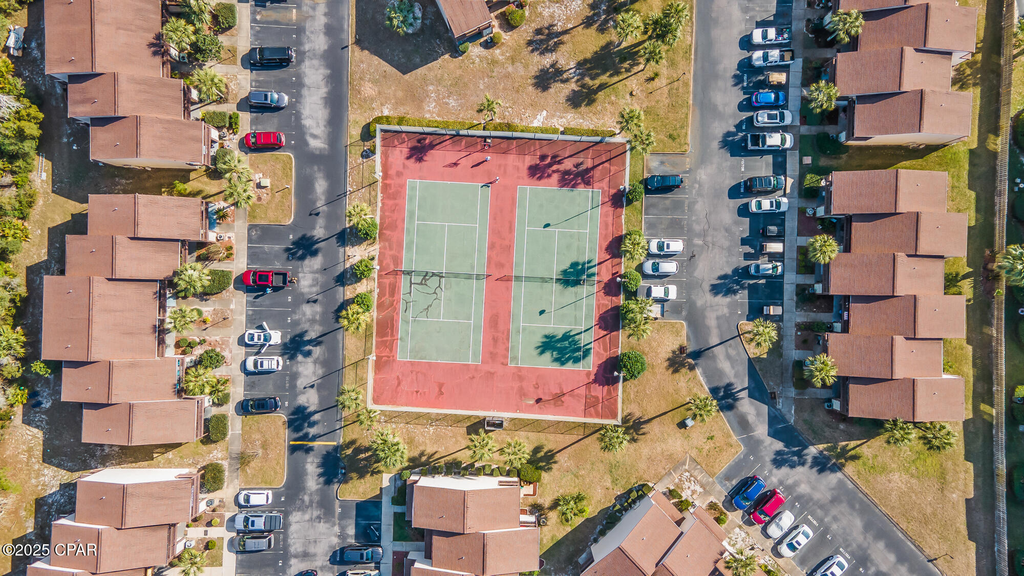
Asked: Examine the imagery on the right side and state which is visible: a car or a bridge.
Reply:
car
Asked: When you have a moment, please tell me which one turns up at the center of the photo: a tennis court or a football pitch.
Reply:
tennis court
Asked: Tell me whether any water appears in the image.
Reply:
No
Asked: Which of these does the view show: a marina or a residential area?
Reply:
residential area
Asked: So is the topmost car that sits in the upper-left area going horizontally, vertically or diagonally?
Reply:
horizontally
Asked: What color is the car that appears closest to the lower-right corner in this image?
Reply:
white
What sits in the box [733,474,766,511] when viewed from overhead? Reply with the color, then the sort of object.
blue car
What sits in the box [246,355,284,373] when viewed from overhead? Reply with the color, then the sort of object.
white car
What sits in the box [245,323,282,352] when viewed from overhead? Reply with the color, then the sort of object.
white car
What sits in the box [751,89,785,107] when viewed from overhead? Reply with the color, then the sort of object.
blue car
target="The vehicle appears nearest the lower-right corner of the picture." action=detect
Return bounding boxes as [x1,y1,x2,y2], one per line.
[814,551,846,576]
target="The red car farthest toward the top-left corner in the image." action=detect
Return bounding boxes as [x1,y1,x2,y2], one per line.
[245,130,286,149]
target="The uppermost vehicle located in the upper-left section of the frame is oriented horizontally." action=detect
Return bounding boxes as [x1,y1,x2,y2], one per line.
[249,45,295,66]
